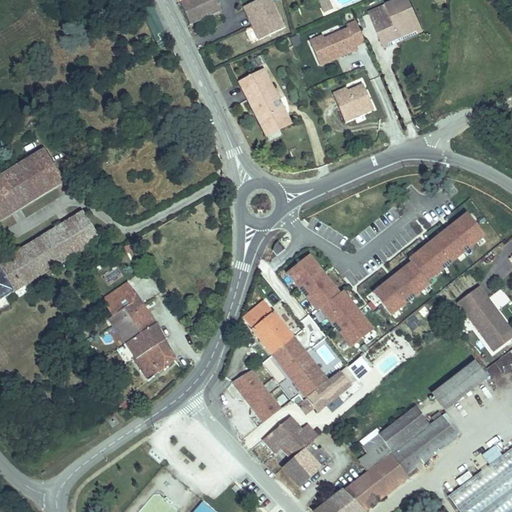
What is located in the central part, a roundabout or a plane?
roundabout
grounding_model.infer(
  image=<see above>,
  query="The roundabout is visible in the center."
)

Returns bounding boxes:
[236,178,286,228]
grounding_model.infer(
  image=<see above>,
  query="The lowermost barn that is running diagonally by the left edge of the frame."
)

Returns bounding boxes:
[0,210,97,291]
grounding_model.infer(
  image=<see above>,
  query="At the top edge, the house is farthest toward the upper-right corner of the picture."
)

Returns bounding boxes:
[368,0,422,48]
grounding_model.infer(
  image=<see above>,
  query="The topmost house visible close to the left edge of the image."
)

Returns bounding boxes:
[0,148,62,220]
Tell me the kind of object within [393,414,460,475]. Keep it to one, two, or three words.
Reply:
hangar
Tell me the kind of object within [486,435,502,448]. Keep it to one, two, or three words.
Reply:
vehicle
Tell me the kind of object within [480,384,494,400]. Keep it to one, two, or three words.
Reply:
vehicle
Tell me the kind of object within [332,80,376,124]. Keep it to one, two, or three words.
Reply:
house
